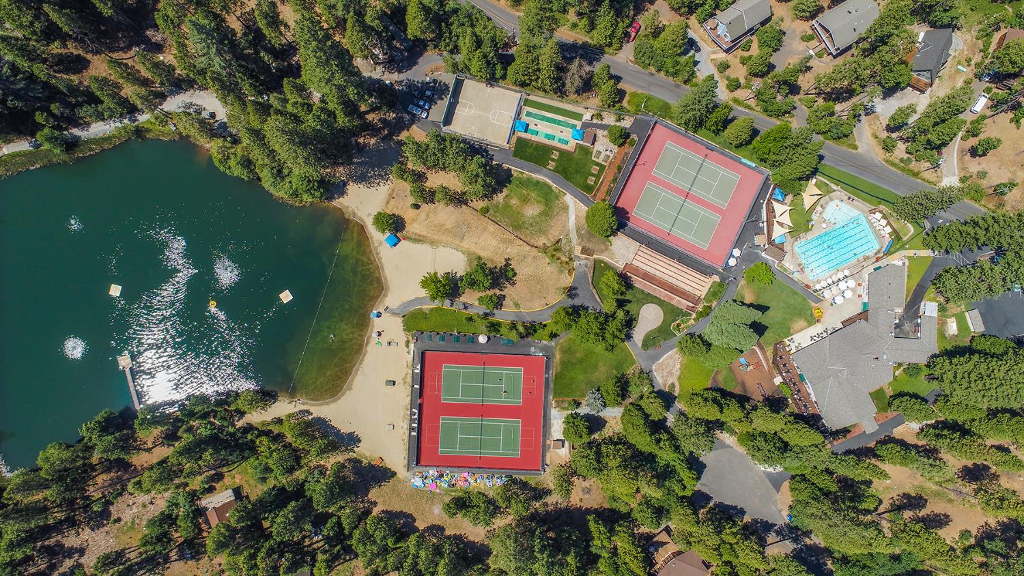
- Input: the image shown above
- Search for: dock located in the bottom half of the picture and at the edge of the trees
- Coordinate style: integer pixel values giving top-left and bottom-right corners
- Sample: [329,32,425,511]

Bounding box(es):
[116,355,139,410]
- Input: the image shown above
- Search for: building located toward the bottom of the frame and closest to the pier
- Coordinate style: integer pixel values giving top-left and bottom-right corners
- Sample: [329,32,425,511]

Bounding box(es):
[199,491,240,526]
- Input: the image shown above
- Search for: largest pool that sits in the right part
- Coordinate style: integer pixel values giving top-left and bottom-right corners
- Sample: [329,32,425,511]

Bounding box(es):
[785,192,896,288]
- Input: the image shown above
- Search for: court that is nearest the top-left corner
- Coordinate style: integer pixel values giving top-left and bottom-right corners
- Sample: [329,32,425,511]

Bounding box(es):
[443,77,522,145]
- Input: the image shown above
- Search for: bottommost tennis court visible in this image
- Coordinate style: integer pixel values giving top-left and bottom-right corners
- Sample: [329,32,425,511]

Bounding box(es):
[417,351,546,470]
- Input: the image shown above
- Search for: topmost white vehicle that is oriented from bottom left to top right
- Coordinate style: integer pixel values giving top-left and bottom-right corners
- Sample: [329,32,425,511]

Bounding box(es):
[973,93,989,113]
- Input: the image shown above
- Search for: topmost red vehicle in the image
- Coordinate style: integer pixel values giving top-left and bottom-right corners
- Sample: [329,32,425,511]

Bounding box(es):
[627,22,641,39]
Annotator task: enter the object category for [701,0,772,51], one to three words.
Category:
house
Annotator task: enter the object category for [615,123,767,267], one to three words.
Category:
tennis court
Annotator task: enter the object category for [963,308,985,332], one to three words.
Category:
shed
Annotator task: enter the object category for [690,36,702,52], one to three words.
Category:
vehicle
